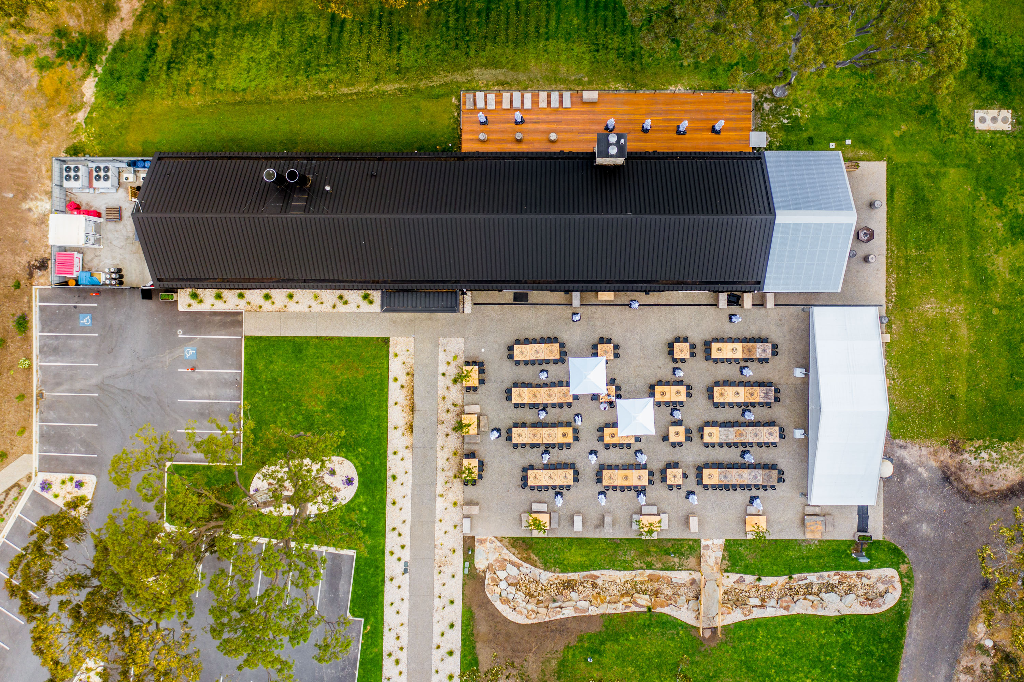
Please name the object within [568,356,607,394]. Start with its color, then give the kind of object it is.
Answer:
white umbrella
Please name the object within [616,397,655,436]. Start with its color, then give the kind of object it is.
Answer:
white umbrella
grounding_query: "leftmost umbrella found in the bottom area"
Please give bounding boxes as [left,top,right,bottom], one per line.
[489,425,504,440]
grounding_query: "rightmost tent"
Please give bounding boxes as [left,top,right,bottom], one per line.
[798,305,889,506]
